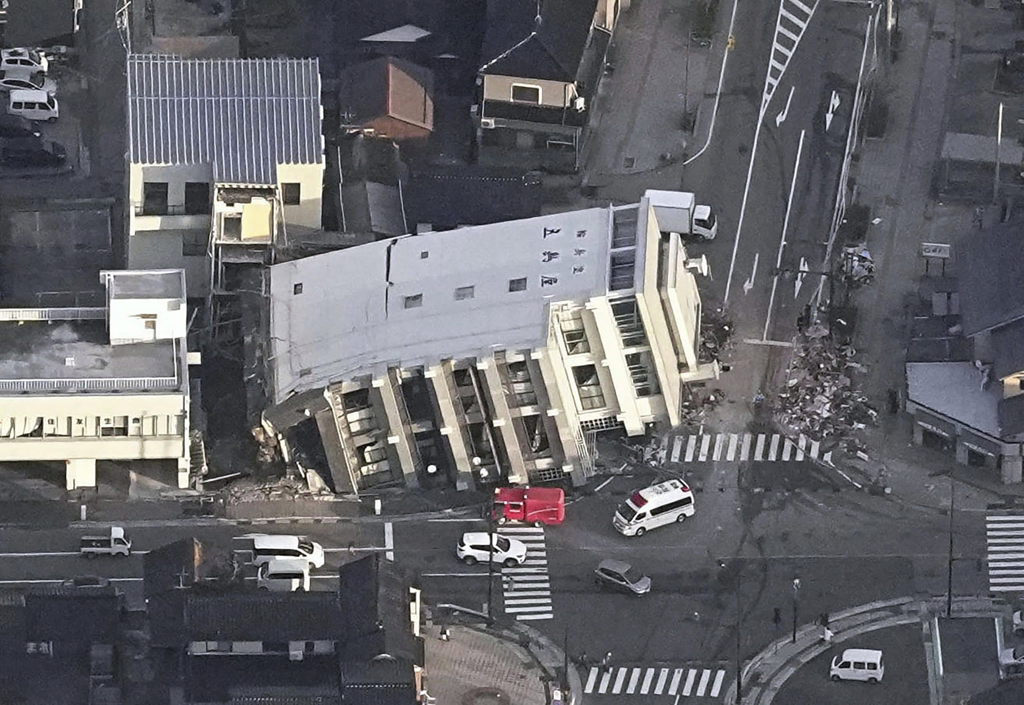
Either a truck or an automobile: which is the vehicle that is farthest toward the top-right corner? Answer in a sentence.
The vehicle that is farthest toward the top-right corner appears to be a truck.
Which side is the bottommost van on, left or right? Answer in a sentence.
The bottommost van appears in the right half of the scene.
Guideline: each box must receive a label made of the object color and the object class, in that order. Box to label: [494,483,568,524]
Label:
red truck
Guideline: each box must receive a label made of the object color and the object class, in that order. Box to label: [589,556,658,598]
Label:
gray car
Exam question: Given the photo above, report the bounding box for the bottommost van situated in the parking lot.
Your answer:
[829,646,885,684]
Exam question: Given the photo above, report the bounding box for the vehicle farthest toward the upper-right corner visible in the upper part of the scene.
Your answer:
[644,189,718,243]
